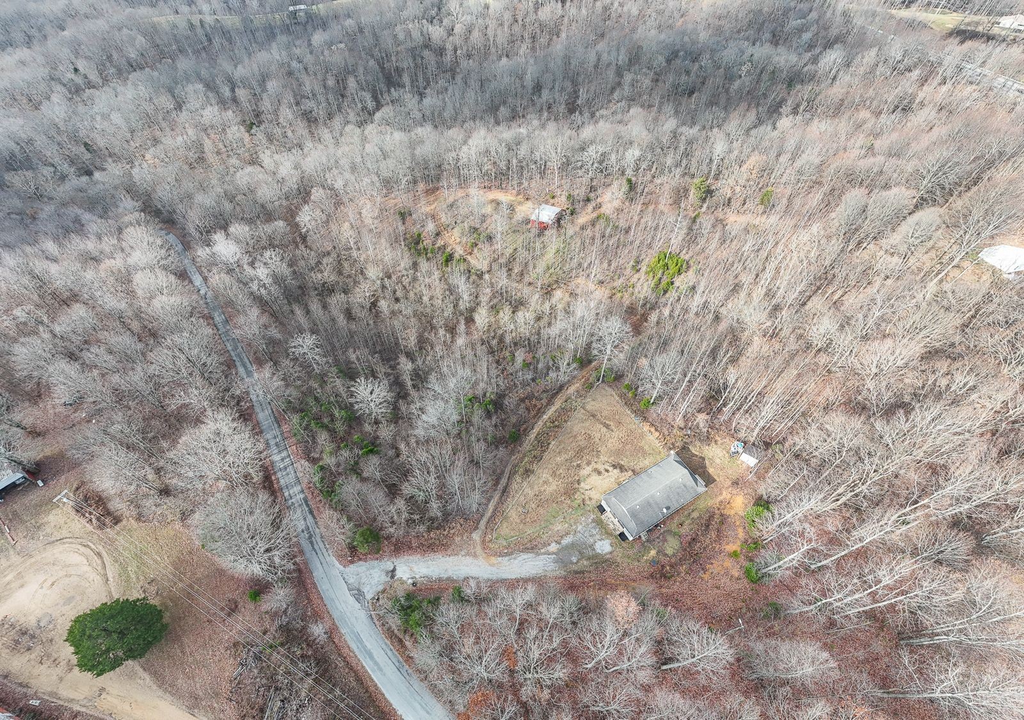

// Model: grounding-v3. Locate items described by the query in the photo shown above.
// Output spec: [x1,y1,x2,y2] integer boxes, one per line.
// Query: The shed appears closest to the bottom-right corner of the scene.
[741,442,766,468]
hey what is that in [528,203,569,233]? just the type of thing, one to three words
barn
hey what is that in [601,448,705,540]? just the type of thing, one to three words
house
